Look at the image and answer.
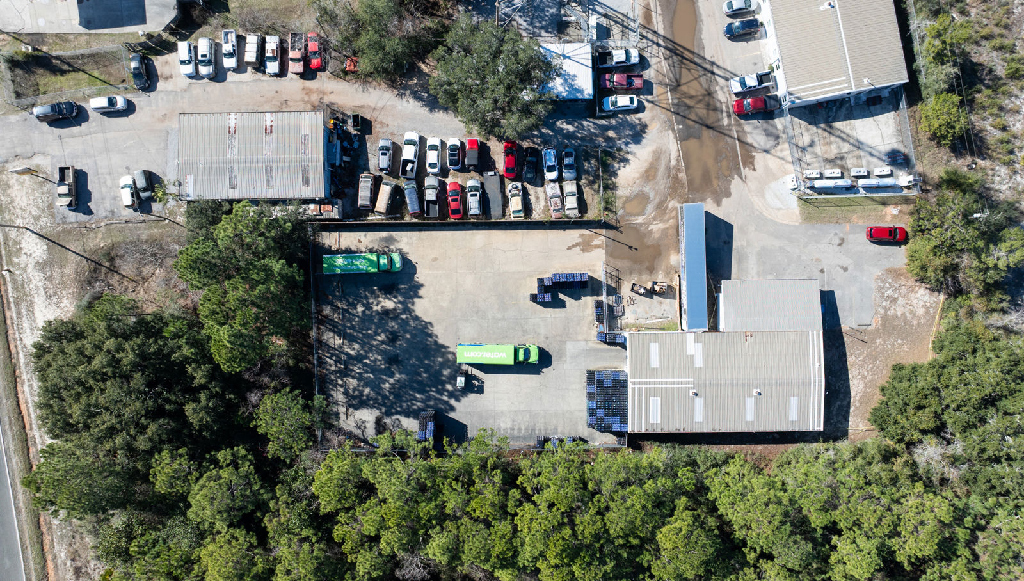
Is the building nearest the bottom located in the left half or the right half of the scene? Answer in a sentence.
The building nearest the bottom sits on the right side.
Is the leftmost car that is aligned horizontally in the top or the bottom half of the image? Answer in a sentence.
The leftmost car that is aligned horizontally sits in the top half of the picture.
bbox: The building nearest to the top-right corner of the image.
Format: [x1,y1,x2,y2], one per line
[757,0,909,112]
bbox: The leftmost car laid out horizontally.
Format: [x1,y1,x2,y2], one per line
[32,102,81,123]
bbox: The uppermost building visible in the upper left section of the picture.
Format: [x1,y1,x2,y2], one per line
[177,112,332,203]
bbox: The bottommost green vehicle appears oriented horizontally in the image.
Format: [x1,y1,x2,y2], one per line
[453,342,540,366]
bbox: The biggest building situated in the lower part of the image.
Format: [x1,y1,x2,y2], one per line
[622,330,826,432]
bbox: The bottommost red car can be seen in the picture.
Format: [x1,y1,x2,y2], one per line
[865,225,907,243]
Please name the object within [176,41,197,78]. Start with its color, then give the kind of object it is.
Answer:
white car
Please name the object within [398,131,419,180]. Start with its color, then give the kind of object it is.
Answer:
white truck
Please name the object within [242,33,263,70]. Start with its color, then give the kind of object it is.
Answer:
white vehicle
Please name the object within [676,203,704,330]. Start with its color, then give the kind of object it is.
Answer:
blue trailer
